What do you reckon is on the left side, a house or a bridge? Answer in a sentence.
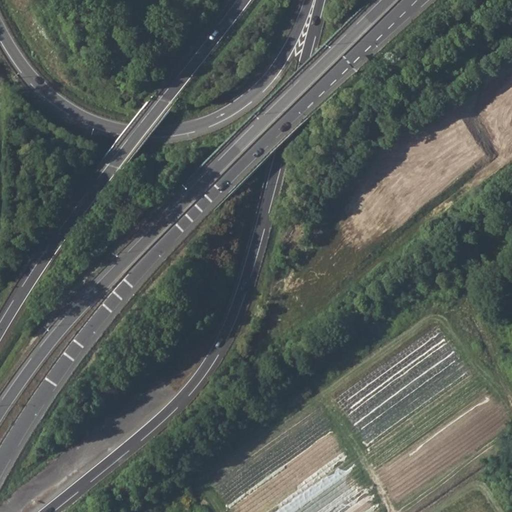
There is a bridge on the left side.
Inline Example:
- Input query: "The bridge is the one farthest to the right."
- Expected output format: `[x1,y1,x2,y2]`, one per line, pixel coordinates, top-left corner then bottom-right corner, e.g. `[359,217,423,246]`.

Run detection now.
[197,0,364,212]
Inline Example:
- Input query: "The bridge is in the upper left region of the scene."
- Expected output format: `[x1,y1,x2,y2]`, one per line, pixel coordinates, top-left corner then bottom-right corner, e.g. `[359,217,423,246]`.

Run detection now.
[95,92,175,180]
